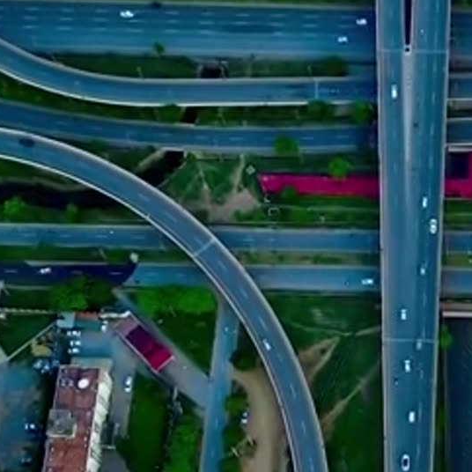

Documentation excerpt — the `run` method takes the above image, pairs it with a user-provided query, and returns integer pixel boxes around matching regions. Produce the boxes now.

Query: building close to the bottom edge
[42,358,113,472]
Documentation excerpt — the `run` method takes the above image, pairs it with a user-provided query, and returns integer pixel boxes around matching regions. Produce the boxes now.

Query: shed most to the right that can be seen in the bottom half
[125,322,175,372]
